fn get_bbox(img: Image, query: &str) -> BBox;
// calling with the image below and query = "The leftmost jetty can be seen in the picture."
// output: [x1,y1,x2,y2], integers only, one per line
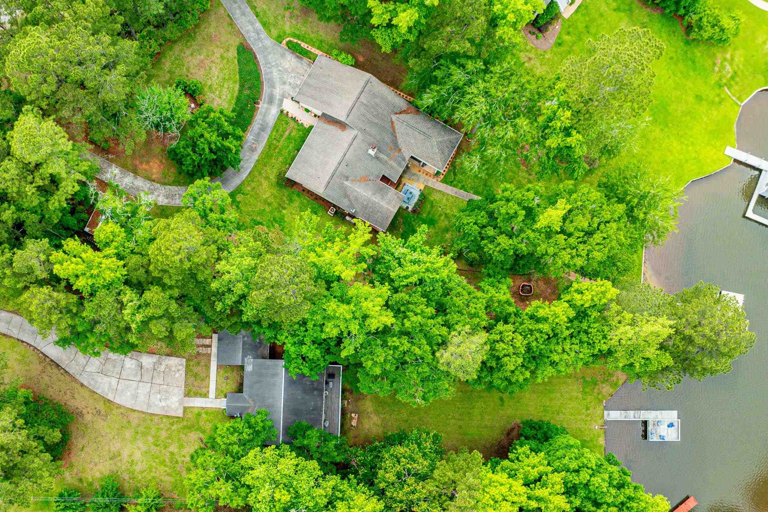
[605,411,684,442]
